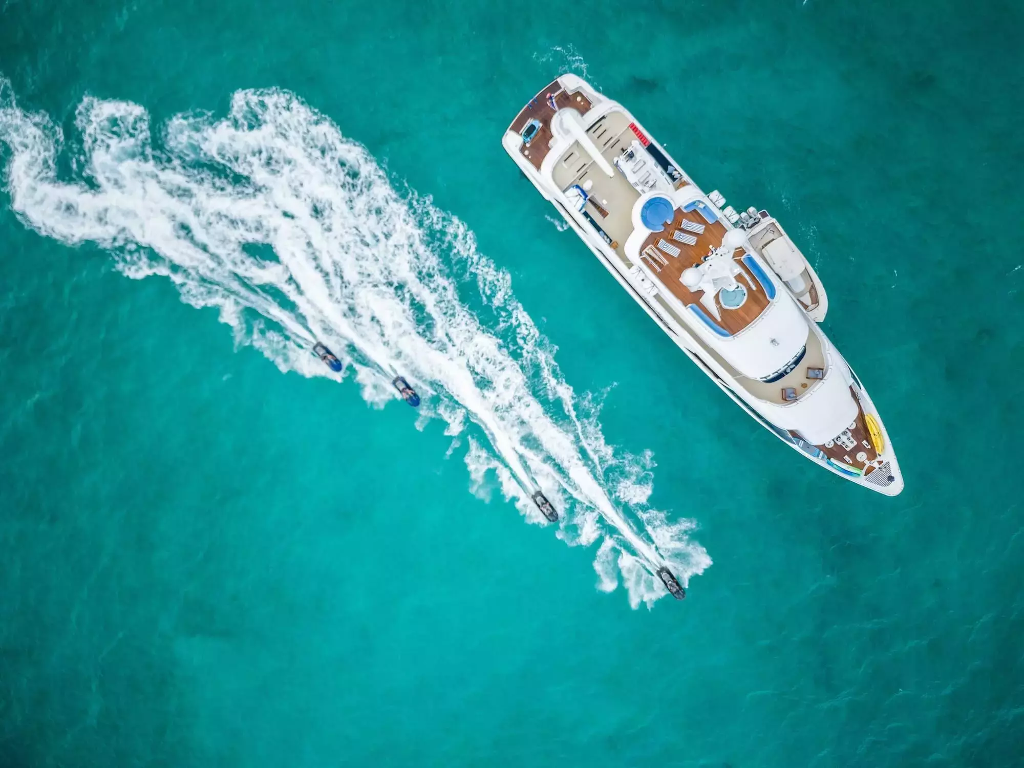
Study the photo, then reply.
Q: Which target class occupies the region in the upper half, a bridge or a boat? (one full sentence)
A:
The one visible in the upper half is a boat.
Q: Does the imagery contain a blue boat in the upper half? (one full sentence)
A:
Yes, a blue boat can be seen in the upper half.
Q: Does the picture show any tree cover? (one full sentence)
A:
No, tree cover can't be seen anywhere here.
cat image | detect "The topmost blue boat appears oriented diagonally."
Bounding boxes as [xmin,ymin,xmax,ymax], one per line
[519,118,541,147]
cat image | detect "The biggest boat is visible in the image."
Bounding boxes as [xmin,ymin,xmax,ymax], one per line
[501,78,901,495]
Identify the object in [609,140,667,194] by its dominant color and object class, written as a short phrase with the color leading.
white boat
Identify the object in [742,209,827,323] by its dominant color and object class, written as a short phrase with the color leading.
white boat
